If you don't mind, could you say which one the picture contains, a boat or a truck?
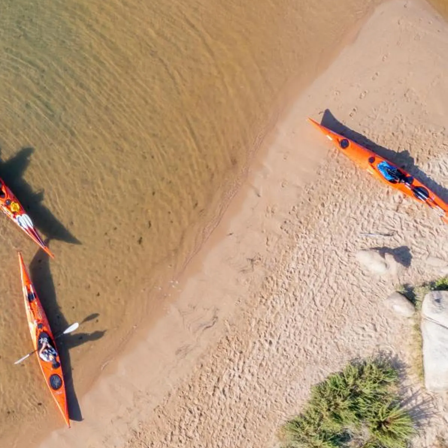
boat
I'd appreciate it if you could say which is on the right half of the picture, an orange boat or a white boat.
orange boat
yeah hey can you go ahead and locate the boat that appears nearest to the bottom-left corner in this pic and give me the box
[18,252,69,428]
